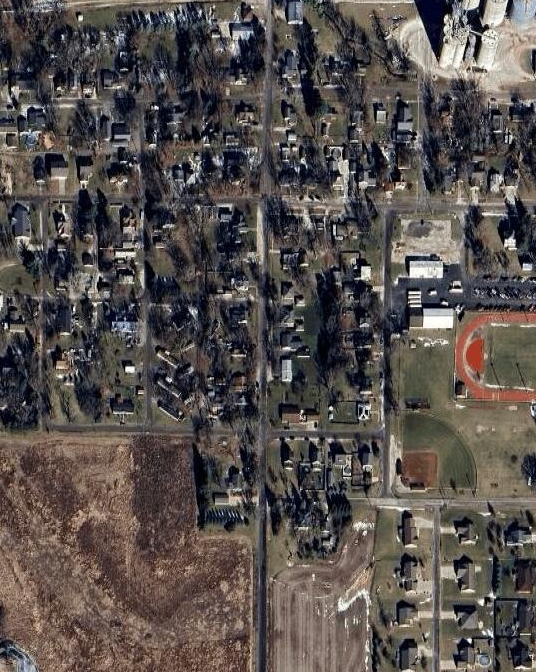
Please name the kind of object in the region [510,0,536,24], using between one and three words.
silo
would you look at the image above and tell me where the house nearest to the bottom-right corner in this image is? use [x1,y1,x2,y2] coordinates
[510,643,532,670]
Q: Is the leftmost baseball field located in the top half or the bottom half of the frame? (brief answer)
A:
bottom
